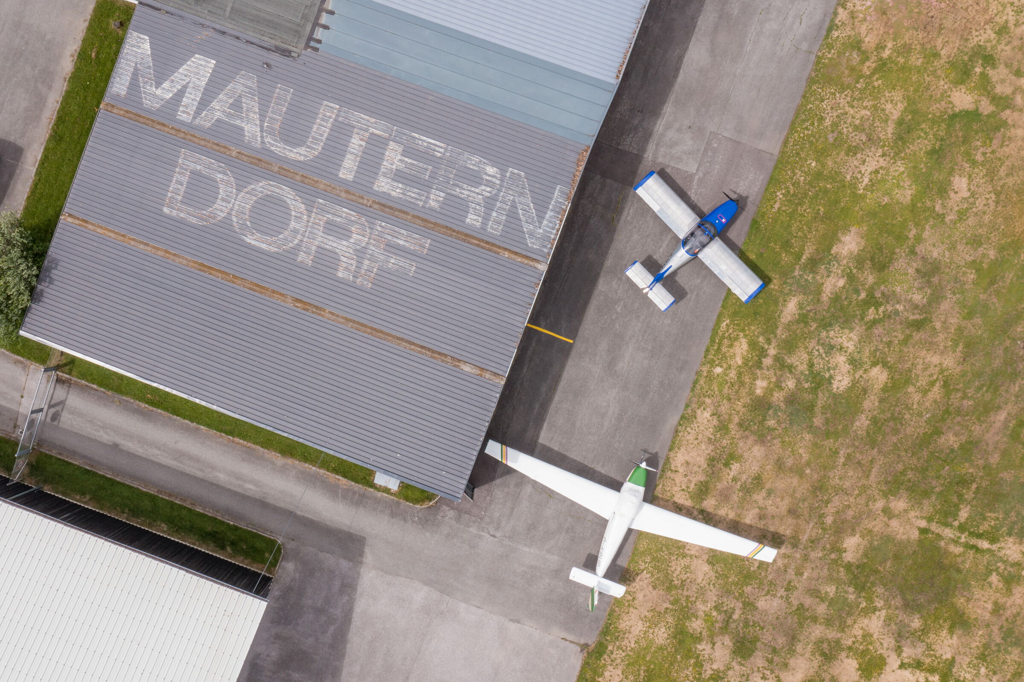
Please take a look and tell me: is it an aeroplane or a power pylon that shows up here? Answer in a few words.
aeroplane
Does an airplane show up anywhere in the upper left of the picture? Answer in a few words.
No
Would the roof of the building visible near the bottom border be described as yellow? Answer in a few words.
No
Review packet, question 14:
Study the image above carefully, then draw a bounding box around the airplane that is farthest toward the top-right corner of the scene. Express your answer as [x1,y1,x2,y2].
[626,172,765,311]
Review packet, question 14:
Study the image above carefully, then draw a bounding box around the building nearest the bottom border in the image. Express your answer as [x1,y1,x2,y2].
[0,472,274,682]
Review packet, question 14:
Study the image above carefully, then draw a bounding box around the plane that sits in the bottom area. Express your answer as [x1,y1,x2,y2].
[485,441,775,613]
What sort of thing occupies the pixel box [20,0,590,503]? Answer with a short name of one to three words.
hangar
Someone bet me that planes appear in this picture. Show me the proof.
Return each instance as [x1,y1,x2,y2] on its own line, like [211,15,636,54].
[485,441,775,613]
[626,172,765,311]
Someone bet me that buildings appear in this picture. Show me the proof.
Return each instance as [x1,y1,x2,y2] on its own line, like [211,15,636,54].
[20,0,590,503]
[0,472,274,682]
